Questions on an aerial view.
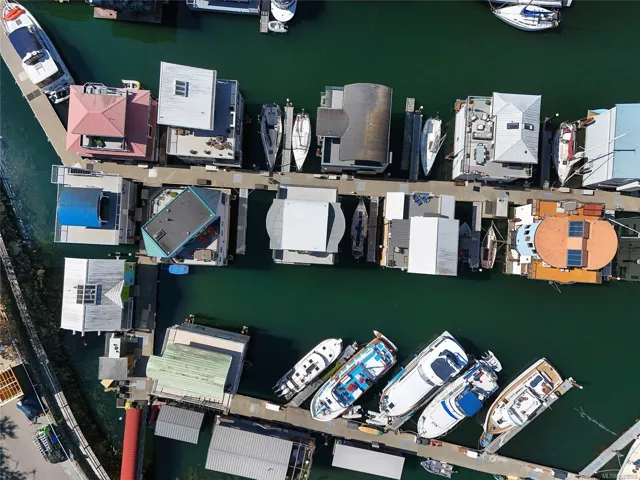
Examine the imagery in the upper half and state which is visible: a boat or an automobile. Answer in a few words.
boat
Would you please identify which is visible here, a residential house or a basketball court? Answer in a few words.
residential house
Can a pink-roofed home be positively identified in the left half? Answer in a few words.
Yes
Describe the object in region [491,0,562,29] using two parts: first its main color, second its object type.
white boat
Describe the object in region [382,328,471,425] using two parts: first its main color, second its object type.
white boat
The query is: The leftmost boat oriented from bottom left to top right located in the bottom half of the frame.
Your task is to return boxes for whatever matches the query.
[278,337,344,398]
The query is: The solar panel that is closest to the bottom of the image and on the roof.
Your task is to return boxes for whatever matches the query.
[566,249,582,266]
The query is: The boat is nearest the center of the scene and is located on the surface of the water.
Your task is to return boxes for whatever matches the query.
[350,199,368,258]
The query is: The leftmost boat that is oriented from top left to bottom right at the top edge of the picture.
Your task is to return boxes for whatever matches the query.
[0,0,76,105]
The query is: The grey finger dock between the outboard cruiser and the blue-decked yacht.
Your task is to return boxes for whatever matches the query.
[286,345,357,410]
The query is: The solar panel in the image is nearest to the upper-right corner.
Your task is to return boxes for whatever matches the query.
[568,221,584,238]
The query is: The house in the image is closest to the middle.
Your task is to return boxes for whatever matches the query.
[266,186,346,265]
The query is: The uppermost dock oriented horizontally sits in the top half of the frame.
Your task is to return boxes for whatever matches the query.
[0,25,640,213]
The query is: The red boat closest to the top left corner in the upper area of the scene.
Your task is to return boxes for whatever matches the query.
[2,6,23,20]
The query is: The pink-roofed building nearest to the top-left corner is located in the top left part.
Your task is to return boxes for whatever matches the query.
[66,78,159,162]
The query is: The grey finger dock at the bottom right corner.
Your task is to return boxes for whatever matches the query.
[577,419,640,477]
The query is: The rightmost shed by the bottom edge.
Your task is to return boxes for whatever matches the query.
[332,435,407,479]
